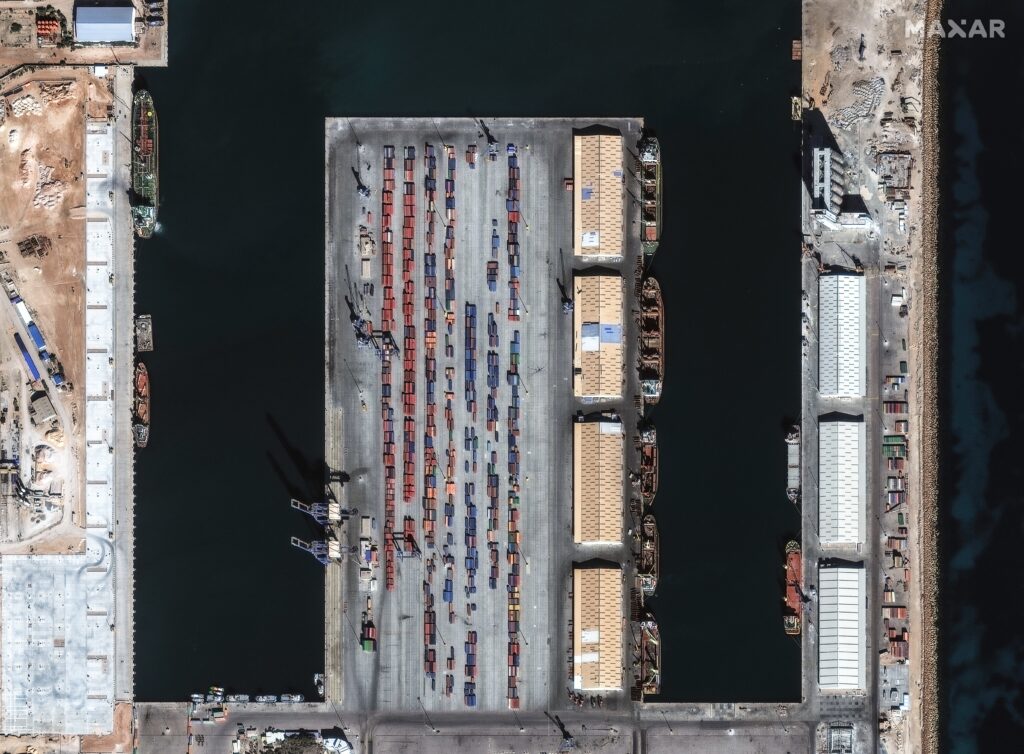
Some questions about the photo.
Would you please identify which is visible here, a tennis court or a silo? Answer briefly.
silo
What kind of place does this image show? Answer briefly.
port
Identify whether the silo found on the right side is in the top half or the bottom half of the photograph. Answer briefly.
top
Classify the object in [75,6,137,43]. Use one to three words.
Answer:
building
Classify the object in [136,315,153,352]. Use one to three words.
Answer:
ship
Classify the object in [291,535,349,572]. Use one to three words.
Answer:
container crane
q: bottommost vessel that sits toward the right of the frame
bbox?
[641,612,662,695]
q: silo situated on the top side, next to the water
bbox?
[810,148,873,228]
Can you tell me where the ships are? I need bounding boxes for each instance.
[792,97,801,120]
[785,424,801,503]
[641,612,662,695]
[135,362,151,448]
[136,315,153,352]
[642,424,660,504]
[639,137,663,273]
[639,277,665,405]
[792,40,802,60]
[784,540,802,636]
[638,514,660,597]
